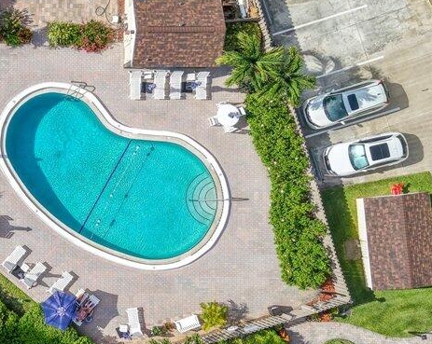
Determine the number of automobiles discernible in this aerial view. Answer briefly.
2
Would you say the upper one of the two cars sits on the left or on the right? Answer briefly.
right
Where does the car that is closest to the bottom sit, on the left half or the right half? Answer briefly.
right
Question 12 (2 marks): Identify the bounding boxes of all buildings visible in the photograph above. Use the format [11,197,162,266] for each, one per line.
[349,191,432,293]
[125,0,226,74]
